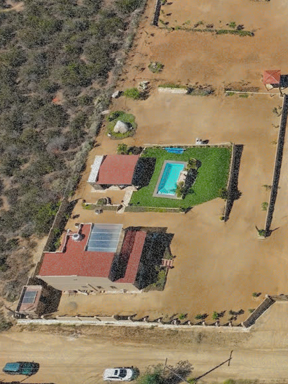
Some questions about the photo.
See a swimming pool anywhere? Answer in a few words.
Yes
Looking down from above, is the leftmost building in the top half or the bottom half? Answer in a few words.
bottom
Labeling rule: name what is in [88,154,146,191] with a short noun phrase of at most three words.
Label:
building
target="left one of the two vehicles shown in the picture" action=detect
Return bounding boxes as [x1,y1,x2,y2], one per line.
[0,358,36,375]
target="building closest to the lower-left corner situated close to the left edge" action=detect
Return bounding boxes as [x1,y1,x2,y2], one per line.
[13,285,54,320]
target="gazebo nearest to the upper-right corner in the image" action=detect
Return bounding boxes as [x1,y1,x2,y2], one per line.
[263,69,285,93]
